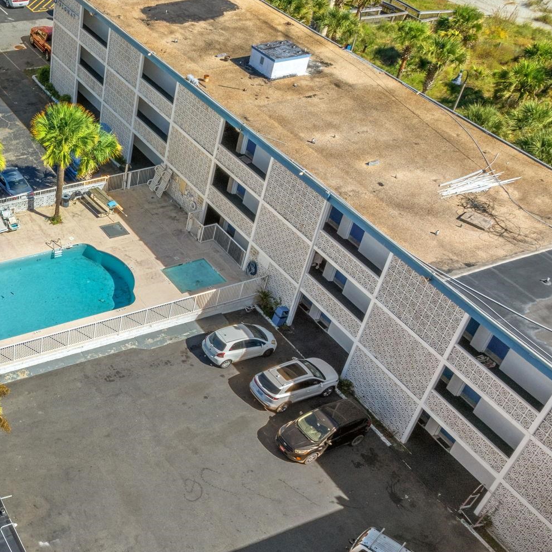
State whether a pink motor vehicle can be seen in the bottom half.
No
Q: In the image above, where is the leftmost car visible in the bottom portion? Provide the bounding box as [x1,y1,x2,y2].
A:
[206,319,281,366]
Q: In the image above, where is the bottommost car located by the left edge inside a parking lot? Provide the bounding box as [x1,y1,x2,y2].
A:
[0,153,34,195]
